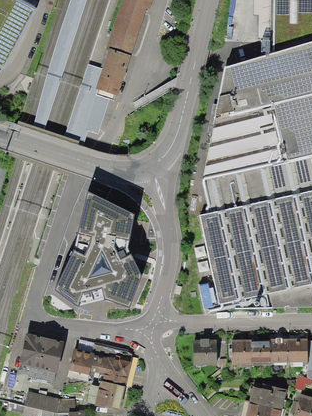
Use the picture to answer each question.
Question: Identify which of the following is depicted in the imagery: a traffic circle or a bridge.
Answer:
bridge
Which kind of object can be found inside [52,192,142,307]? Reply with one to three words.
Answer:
building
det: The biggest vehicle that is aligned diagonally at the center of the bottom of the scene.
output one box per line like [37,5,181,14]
[162,380,186,402]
